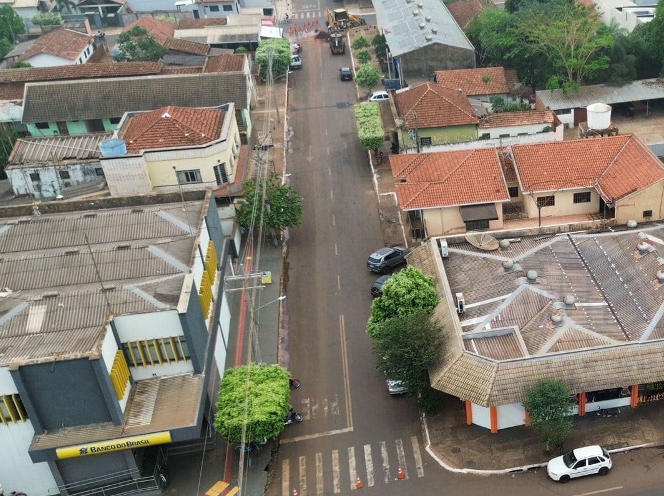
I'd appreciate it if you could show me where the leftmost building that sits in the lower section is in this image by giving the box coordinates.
[0,186,237,496]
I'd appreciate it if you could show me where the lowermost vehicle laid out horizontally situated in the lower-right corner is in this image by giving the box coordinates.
[547,442,616,482]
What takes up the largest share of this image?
buildings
